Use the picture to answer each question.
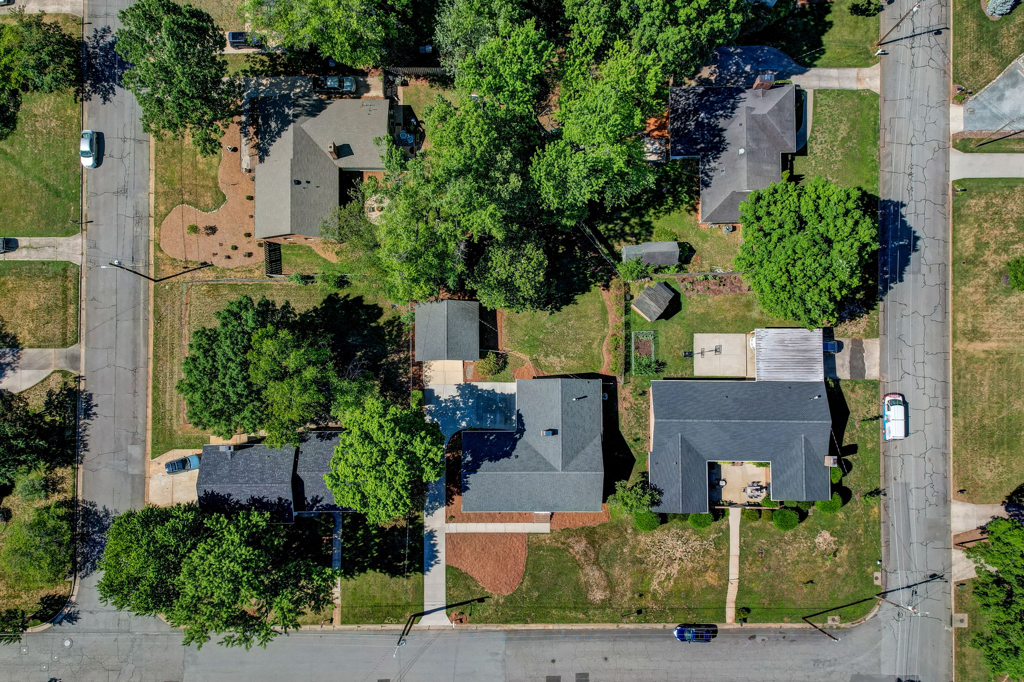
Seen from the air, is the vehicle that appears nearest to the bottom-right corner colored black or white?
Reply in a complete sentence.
The vehicle that appears nearest to the bottom-right corner is white.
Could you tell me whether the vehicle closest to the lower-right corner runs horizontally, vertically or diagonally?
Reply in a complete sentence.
Seen from above, the vehicle closest to the lower-right corner lies vertically.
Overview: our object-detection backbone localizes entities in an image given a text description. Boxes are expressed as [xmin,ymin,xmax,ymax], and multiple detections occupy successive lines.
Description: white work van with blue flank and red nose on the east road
[884,393,907,440]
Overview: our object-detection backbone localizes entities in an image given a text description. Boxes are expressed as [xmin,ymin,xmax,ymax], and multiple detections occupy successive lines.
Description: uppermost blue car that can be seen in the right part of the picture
[824,341,837,356]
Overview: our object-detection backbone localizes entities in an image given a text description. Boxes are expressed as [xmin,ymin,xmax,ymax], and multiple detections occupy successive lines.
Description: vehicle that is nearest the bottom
[674,628,713,647]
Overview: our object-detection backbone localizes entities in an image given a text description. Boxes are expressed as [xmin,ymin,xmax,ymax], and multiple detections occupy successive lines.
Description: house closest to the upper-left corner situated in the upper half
[254,90,390,239]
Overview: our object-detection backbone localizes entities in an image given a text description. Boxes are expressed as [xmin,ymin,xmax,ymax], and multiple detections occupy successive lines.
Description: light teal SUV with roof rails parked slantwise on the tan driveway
[162,454,199,475]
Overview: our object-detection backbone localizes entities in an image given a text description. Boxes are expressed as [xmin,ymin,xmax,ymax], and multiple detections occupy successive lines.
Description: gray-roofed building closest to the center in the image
[415,299,479,361]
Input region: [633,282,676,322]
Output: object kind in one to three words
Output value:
shed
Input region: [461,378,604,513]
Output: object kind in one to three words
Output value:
house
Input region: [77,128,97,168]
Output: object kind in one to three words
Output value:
car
